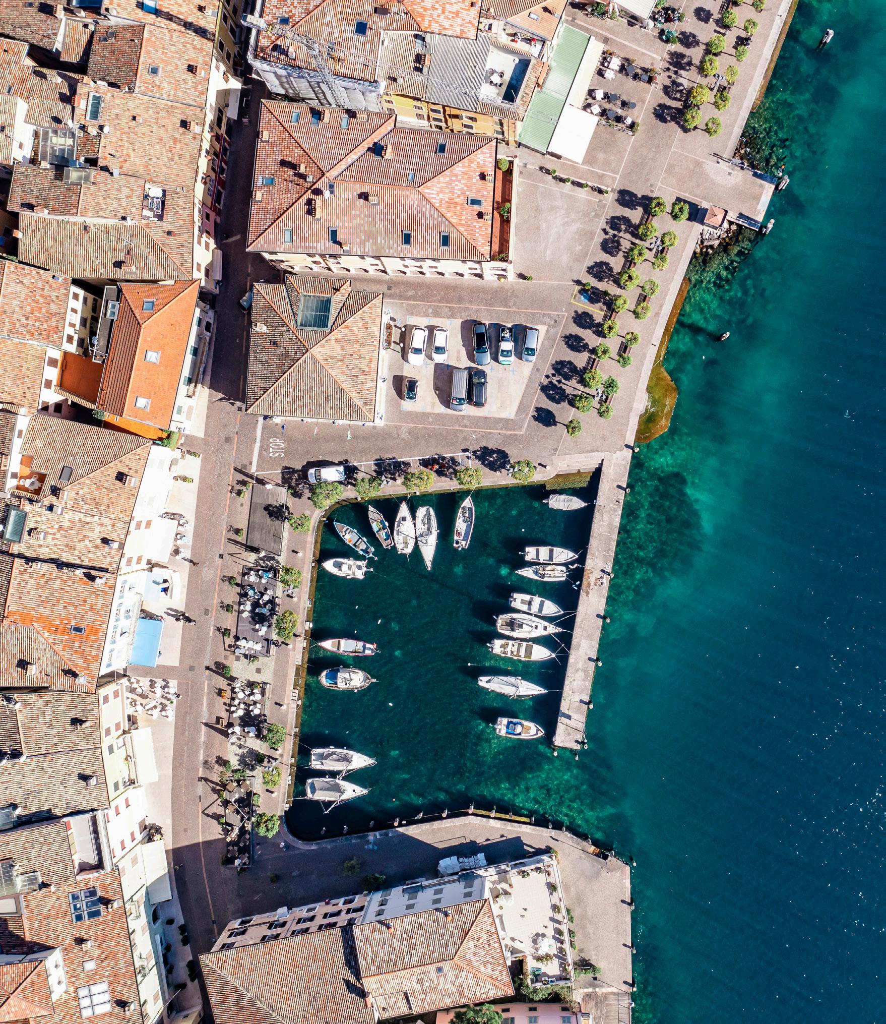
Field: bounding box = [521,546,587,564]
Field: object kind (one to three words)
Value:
boat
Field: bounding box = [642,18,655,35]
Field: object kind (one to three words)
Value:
umbrella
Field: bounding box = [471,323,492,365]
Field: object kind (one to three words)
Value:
car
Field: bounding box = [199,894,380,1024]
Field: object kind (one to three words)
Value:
house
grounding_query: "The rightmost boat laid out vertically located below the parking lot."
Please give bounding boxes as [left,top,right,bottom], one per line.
[451,491,474,553]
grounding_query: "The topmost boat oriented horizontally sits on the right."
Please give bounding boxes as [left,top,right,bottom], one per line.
[543,494,588,510]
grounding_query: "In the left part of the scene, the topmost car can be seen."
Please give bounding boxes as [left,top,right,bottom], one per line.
[238,279,254,311]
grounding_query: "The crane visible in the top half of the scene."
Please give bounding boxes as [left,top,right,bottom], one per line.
[236,7,545,121]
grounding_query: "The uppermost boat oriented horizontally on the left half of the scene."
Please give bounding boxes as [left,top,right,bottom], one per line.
[314,559,373,581]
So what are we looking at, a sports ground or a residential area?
residential area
